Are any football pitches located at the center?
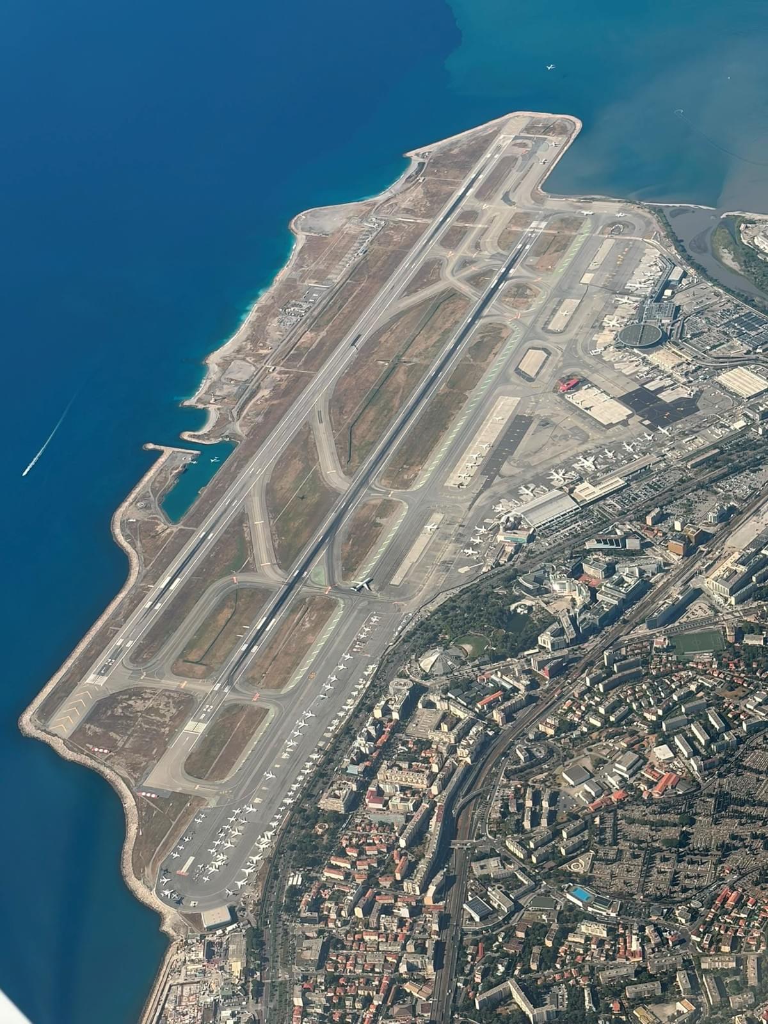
No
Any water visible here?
Yes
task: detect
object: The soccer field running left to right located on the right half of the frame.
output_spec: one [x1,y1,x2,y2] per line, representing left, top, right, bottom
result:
[668,629,726,654]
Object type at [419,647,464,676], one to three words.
greenhouse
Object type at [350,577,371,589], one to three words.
airplane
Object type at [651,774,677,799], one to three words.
house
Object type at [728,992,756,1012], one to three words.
building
